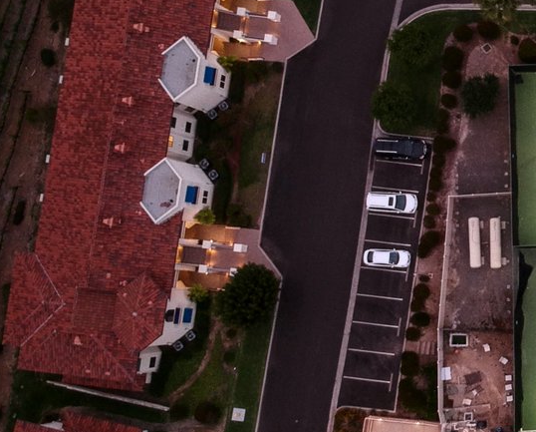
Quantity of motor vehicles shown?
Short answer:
3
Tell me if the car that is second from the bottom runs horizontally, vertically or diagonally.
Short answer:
horizontally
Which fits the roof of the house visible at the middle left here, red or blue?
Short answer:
red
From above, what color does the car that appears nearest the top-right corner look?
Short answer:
black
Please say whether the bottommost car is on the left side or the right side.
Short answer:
right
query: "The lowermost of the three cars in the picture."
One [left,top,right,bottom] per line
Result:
[364,248,411,270]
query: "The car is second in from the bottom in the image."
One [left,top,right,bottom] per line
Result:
[368,191,416,215]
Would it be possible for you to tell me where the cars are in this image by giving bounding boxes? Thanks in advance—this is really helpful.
[377,137,425,159]
[368,191,416,215]
[364,248,411,270]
